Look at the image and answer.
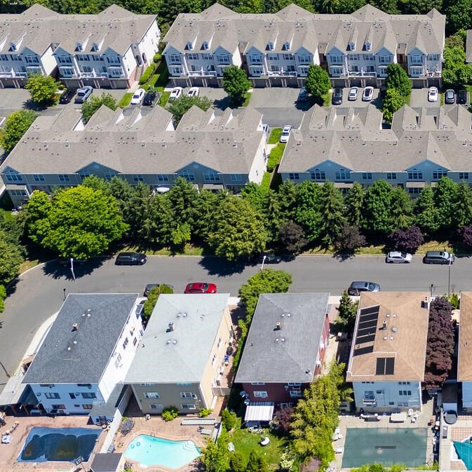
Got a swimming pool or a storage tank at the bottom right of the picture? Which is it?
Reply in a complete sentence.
Looking at the bottom right of the picture, you will find a swimming pool.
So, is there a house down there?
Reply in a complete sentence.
Yes, the frame does contain a house.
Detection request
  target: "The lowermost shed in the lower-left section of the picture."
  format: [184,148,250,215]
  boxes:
[91,451,128,472]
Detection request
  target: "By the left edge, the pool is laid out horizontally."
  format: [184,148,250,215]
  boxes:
[13,425,105,465]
